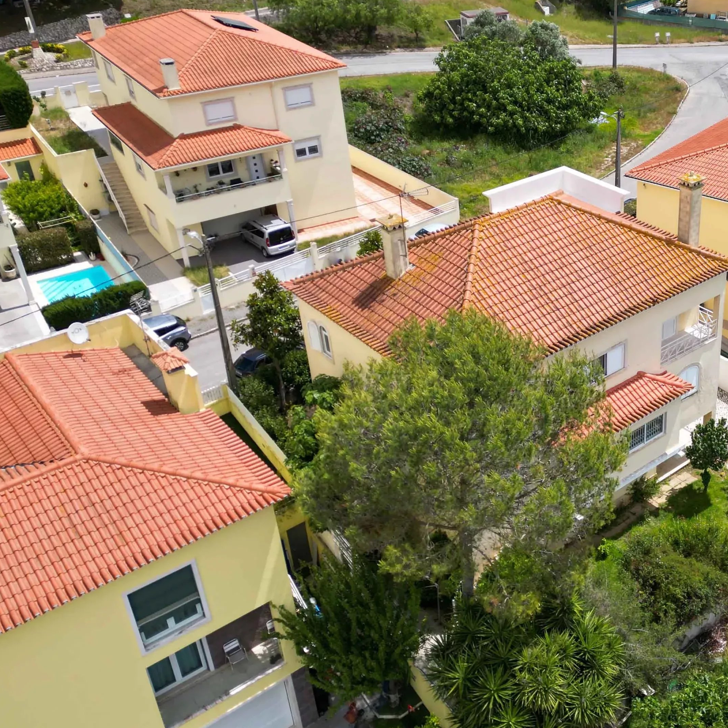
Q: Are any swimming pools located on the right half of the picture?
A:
No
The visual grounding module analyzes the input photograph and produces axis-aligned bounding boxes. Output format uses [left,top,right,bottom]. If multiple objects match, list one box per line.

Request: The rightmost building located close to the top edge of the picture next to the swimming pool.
[82,0,355,267]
